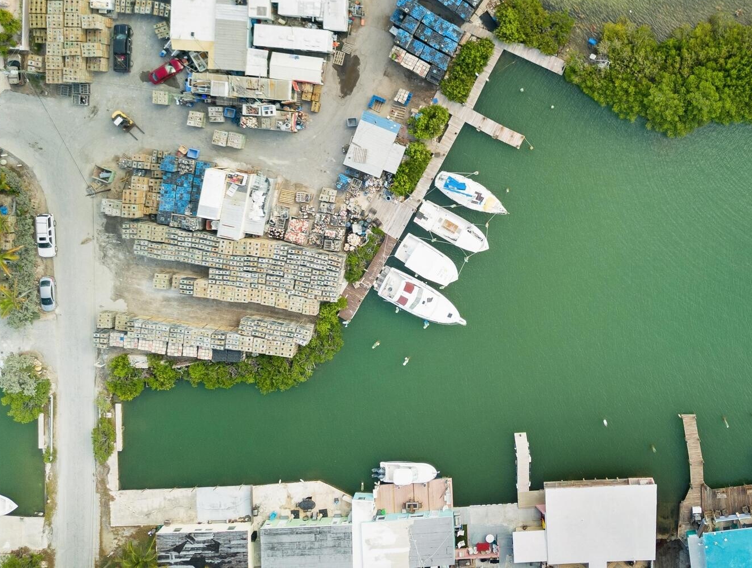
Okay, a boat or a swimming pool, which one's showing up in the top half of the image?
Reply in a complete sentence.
The one visible in the top half of the image is a boat.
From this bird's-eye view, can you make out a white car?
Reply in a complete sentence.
Yes, the photo shows a white car.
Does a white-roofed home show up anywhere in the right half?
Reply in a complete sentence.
Yes, you'll find a white-roofed home in the right half.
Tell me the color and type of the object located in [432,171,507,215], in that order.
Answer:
white boat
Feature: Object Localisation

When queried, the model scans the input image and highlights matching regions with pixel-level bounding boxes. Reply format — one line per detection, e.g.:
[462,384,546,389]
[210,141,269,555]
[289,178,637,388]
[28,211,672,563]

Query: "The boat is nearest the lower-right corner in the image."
[375,458,439,484]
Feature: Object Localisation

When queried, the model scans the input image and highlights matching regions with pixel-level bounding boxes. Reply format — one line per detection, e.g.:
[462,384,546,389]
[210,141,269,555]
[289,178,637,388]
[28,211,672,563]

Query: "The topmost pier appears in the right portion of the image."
[461,23,565,75]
